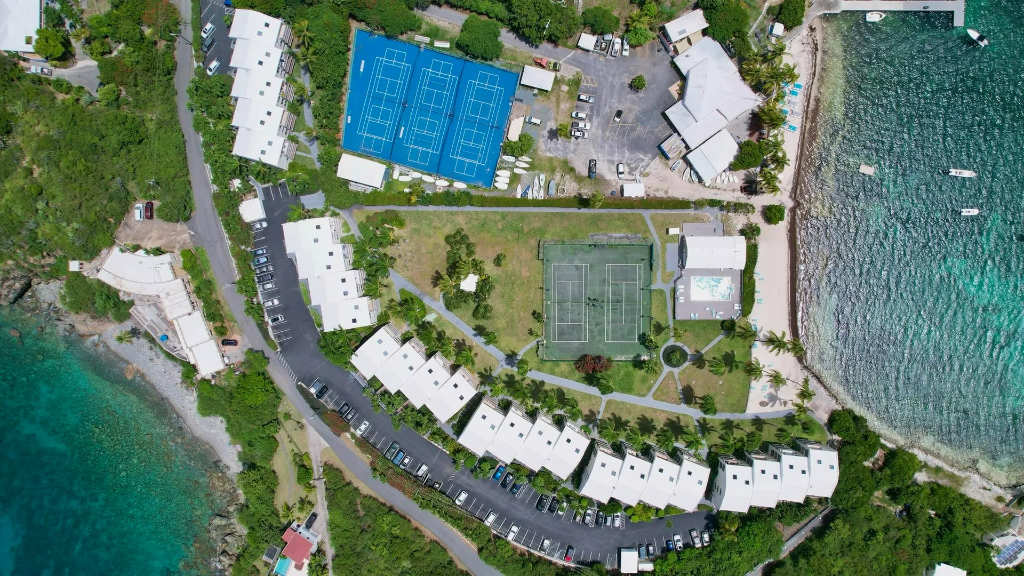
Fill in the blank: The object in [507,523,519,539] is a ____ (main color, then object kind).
white vehicle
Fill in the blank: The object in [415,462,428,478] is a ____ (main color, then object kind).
white vehicle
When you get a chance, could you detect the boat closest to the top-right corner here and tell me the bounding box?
[966,31,987,48]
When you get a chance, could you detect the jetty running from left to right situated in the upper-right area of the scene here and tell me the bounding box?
[811,0,964,27]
